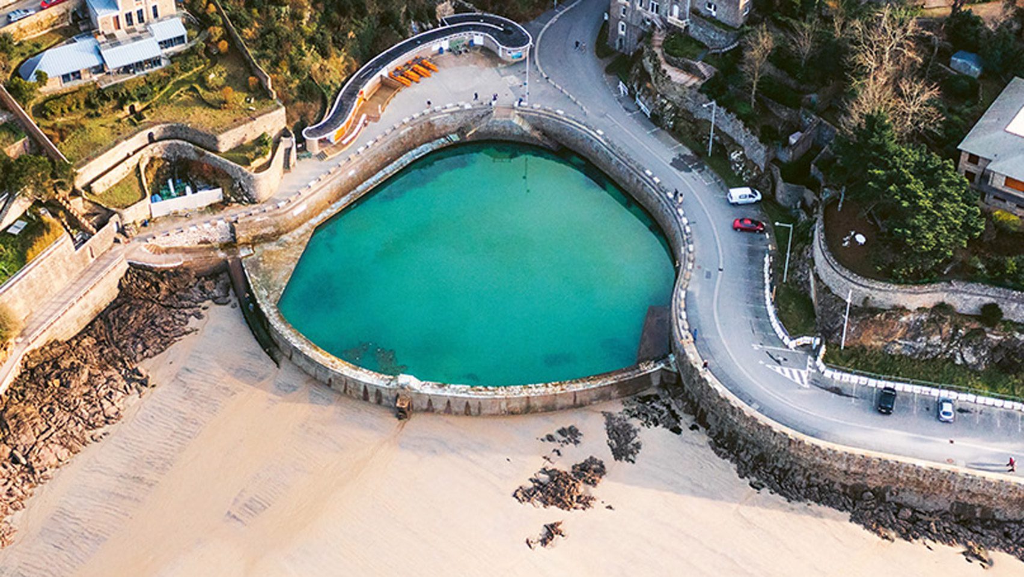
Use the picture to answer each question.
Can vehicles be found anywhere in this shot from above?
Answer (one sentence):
Yes, a vehicle is visible in the scene.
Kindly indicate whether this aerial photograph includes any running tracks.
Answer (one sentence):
No, there's no running track here.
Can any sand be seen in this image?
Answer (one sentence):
Yes, some sand is visible.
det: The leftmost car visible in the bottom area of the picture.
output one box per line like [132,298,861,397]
[876,387,898,413]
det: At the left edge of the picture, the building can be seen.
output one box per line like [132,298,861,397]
[18,0,188,97]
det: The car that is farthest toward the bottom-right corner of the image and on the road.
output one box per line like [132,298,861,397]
[935,396,959,424]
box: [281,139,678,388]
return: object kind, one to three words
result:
swimming pool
